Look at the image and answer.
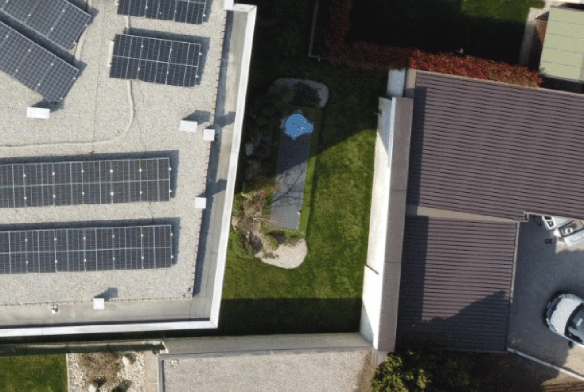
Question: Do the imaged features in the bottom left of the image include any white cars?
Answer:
No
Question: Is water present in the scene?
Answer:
No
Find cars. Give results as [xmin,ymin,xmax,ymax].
[536,296,584,353]
[546,220,584,256]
